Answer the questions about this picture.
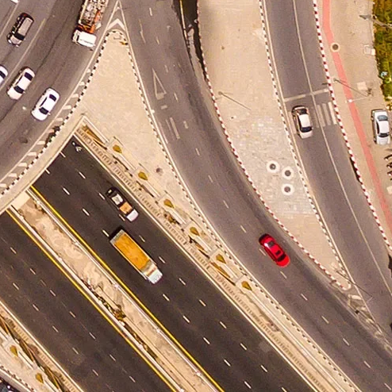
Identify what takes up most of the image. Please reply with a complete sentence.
The bulk of the photo consists of paved ground.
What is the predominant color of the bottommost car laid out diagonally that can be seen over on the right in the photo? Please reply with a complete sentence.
From above, the bottommost car laid out diagonally that can be seen over on the right appears red.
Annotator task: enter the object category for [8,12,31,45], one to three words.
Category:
car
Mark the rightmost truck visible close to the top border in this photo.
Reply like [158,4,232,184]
[72,0,105,44]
